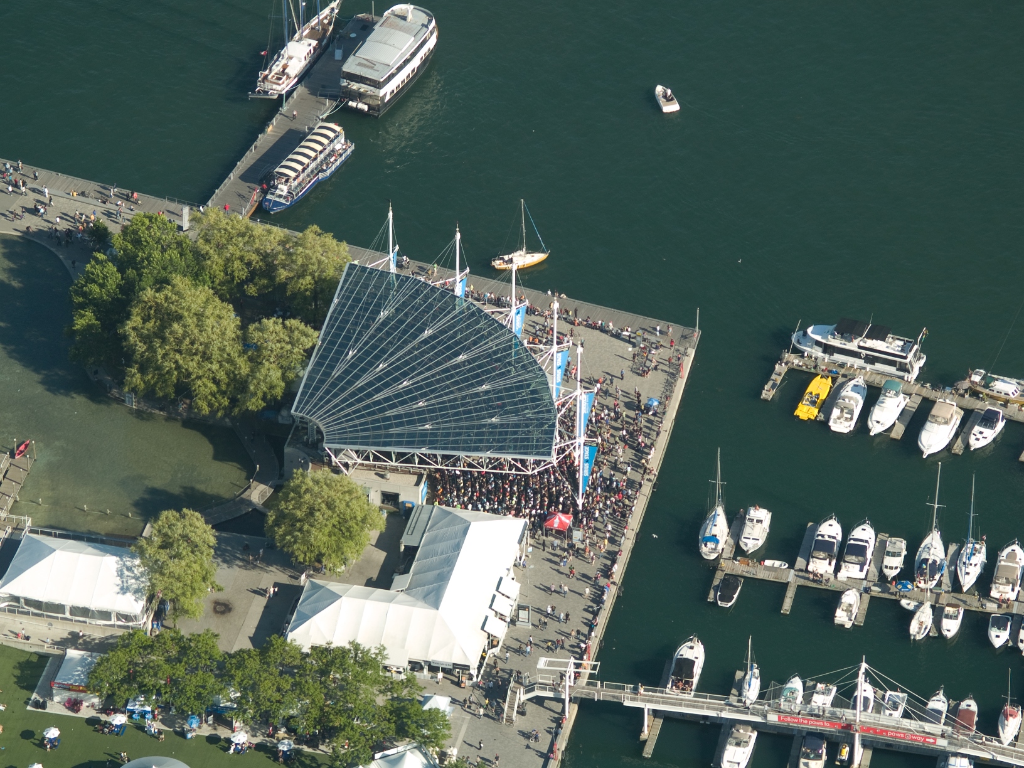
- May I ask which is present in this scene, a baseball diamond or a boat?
boat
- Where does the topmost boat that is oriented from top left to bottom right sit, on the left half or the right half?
right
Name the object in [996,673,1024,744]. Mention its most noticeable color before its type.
white boat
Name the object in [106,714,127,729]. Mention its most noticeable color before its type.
white umbrella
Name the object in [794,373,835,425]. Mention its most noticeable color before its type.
yellow boat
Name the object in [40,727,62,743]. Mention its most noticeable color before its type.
white umbrella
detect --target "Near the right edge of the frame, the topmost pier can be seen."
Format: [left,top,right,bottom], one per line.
[762,354,1024,466]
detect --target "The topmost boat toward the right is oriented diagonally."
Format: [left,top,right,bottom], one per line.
[656,81,679,116]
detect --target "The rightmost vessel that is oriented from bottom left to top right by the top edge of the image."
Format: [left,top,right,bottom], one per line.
[337,4,432,120]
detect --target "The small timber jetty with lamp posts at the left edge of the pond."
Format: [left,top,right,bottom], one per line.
[0,435,37,516]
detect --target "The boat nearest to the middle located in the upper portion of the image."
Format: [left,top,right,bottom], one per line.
[491,202,550,273]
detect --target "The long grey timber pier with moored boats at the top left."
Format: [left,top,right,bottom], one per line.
[207,5,389,217]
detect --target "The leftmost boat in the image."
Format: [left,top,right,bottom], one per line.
[15,436,30,458]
